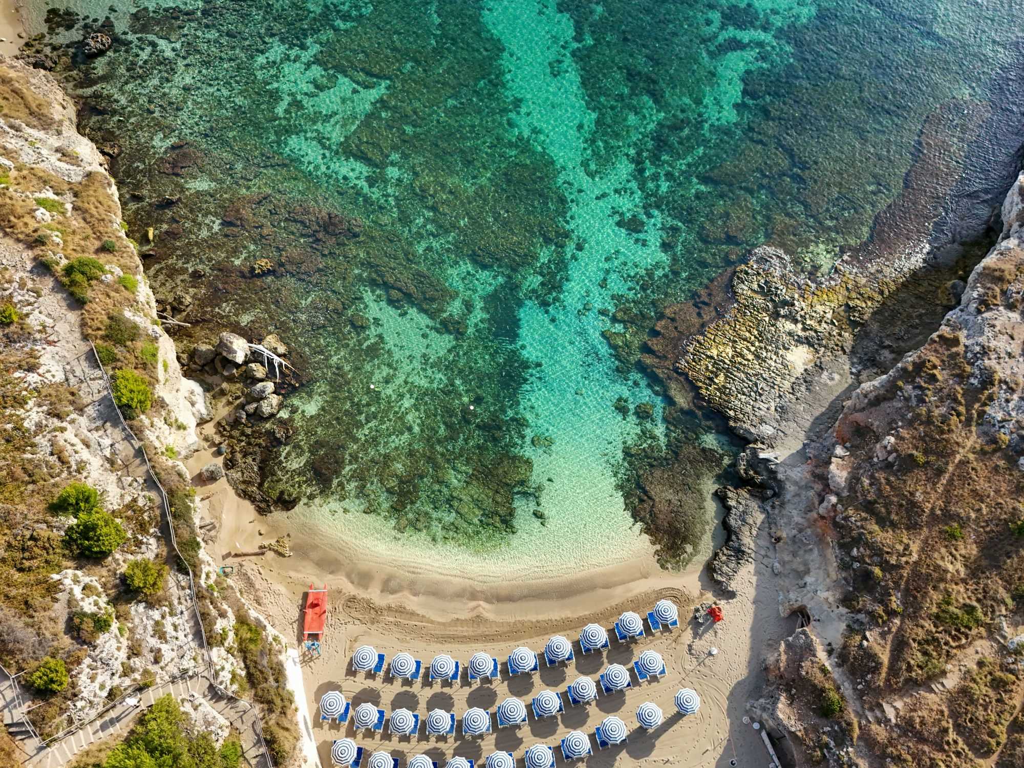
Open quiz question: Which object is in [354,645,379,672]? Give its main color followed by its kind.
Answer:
white umbrella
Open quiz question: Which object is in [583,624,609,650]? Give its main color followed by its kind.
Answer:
white umbrella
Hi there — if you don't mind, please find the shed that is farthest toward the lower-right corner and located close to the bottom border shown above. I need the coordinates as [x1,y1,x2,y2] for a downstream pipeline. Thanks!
[759,724,801,768]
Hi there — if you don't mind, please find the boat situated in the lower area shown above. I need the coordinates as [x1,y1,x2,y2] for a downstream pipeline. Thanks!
[303,586,329,641]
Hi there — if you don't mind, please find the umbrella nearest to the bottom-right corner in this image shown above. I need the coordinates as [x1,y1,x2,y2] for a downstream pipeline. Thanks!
[673,687,699,715]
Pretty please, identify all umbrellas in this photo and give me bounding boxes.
[368,750,394,768]
[469,654,496,681]
[534,687,560,716]
[561,729,588,758]
[332,737,361,767]
[598,718,624,746]
[486,748,513,768]
[463,708,488,736]
[544,635,570,662]
[654,600,678,625]
[354,645,379,672]
[509,646,535,673]
[617,612,641,637]
[583,624,609,650]
[673,687,699,715]
[391,654,416,680]
[356,700,382,730]
[635,700,661,728]
[498,698,524,727]
[603,664,628,691]
[320,689,347,718]
[425,708,451,736]
[431,656,456,682]
[391,707,417,735]
[568,677,594,705]
[528,741,553,768]
[639,650,663,676]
